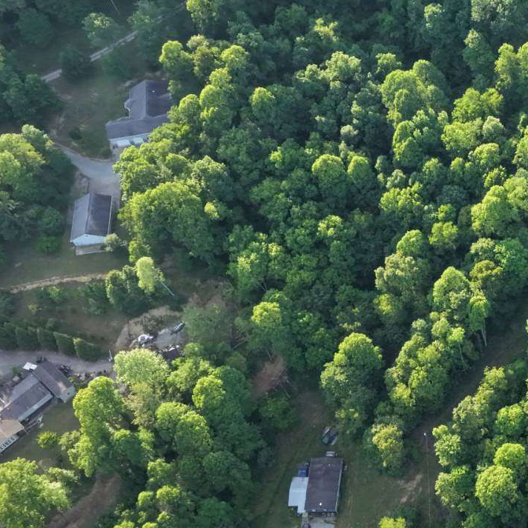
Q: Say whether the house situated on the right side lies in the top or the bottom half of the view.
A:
bottom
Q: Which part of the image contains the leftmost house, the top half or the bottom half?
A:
bottom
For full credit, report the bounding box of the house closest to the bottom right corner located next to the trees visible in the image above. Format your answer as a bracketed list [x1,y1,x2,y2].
[289,459,345,521]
